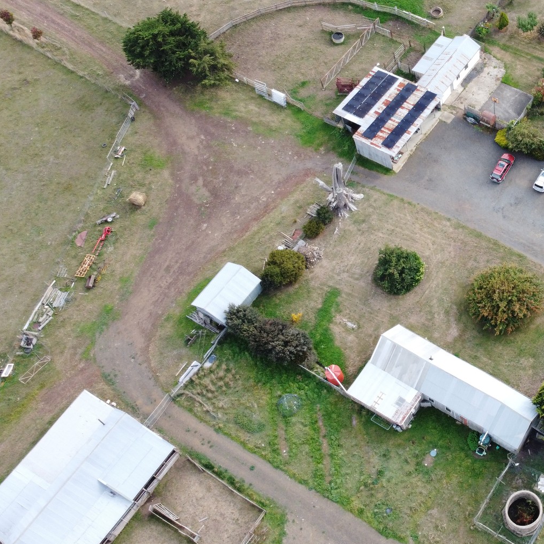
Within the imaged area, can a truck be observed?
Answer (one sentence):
No, the scene contains no truck.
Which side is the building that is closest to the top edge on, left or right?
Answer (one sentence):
The building that is closest to the top edge is on the right side of the image.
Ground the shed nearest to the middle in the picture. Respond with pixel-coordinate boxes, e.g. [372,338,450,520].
[191,262,267,333]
